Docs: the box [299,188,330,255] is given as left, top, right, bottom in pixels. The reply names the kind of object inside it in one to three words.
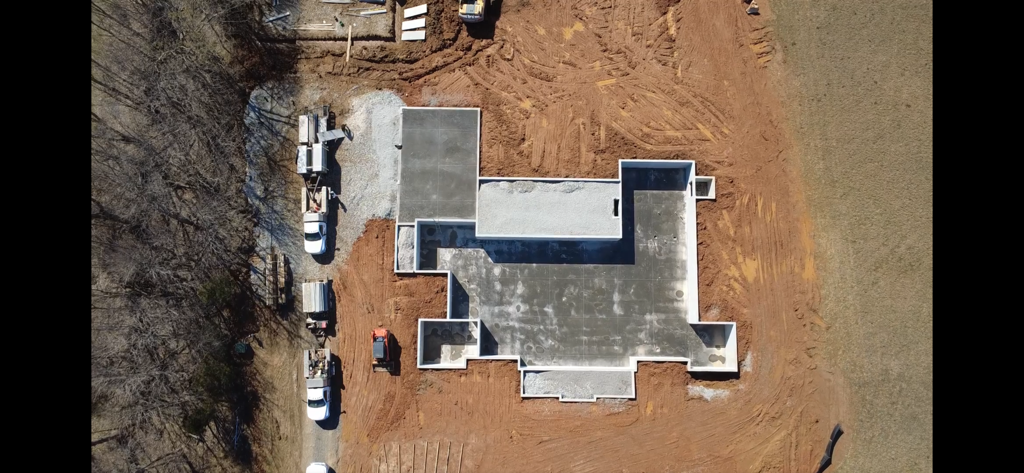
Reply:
truck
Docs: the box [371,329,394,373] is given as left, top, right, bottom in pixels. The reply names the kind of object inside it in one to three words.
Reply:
work vehicle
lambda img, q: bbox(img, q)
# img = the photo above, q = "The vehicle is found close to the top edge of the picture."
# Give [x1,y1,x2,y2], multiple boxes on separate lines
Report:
[459,0,485,20]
